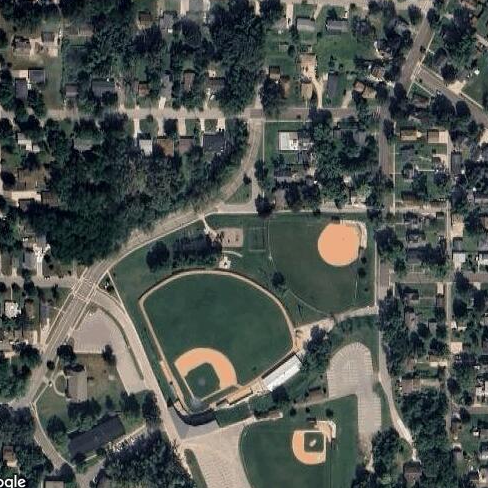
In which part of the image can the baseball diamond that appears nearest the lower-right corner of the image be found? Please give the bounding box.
[239,413,333,488]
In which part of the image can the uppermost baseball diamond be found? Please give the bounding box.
[269,217,369,318]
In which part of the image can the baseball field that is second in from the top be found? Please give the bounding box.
[139,268,295,415]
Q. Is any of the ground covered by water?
No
